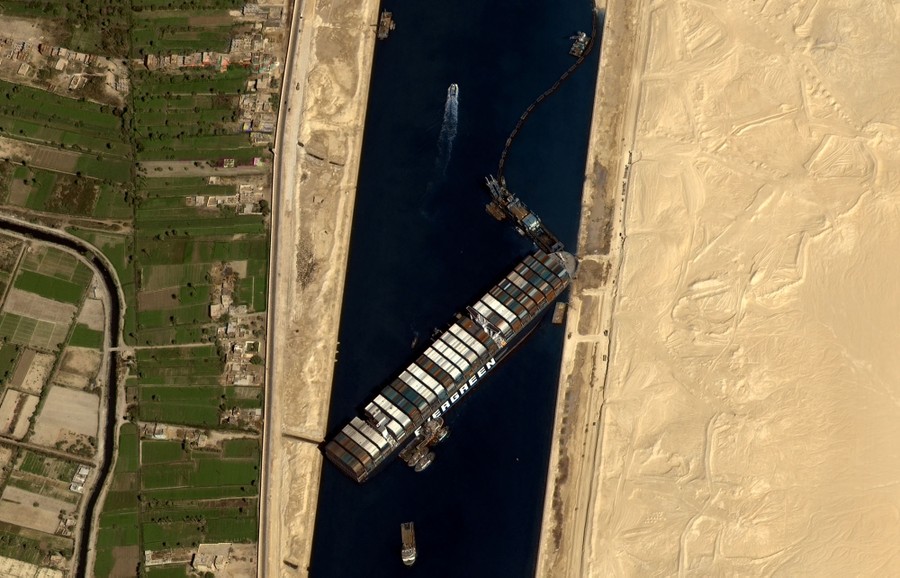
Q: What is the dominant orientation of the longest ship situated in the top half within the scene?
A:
on a diagonal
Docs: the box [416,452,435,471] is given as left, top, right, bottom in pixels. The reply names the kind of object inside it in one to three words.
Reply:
boat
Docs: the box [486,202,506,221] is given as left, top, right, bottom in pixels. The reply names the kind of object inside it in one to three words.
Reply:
ship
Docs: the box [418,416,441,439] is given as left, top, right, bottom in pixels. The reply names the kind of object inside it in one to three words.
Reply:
vessel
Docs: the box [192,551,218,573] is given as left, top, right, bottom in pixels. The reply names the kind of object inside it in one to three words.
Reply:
house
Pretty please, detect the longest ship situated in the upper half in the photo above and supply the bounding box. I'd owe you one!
[485,175,565,254]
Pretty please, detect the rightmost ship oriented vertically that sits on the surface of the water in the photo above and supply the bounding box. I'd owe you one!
[552,303,565,324]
